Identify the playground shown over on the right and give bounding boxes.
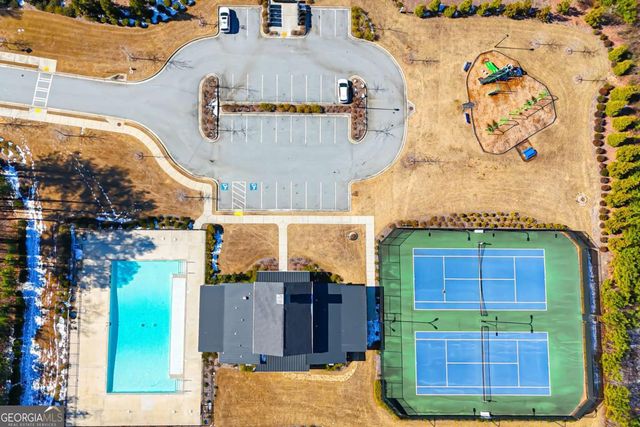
[468,49,557,162]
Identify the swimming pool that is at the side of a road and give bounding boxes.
[69,230,208,424]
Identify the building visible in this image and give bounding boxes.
[198,271,368,372]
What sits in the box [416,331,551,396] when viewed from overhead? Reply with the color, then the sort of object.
blue tennis court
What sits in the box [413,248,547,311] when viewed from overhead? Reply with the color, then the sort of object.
blue tennis court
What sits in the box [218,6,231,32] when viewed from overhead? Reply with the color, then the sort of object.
white vehicle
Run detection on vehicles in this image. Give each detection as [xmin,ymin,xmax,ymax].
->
[338,79,349,103]
[218,6,231,32]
